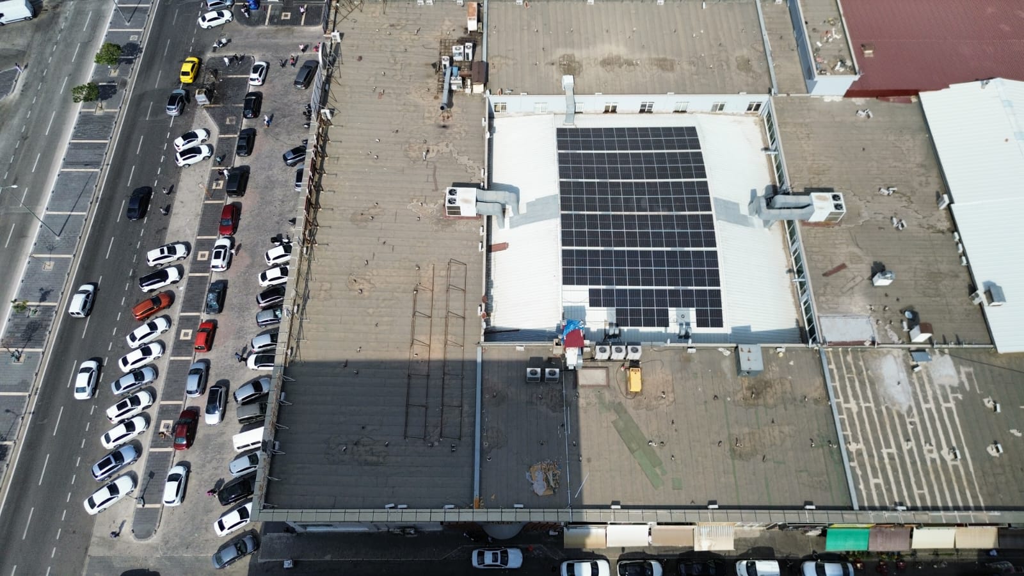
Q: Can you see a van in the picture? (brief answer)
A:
Yes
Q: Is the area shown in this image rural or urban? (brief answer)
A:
urban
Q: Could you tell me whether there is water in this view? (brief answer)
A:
No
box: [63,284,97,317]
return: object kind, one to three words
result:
van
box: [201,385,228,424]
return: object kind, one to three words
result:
car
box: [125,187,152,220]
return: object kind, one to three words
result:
car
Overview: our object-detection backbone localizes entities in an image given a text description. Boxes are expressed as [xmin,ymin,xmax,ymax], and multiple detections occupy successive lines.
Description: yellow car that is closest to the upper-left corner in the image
[177,57,200,83]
